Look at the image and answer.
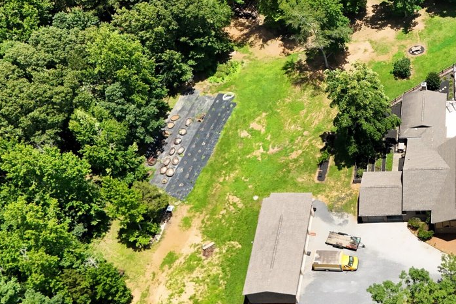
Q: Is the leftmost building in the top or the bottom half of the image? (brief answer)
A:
bottom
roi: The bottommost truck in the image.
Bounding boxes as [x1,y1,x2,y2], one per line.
[310,250,359,273]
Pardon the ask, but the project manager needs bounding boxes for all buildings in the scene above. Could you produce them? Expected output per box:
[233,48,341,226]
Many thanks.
[242,188,314,301]
[398,84,456,233]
